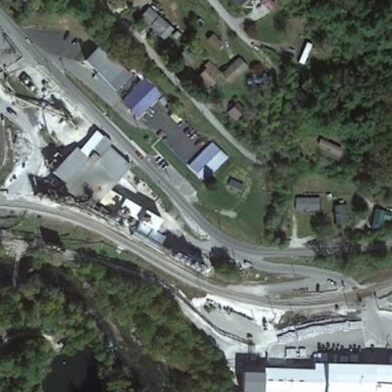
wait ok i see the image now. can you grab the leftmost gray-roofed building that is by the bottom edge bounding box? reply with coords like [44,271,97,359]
[244,372,265,392]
